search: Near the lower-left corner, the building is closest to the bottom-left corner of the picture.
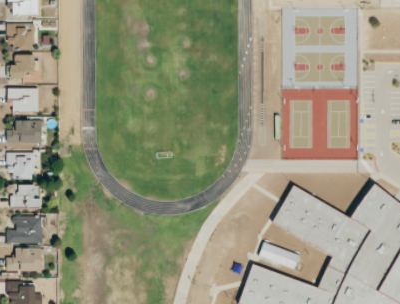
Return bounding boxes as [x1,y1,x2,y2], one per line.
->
[6,280,42,304]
